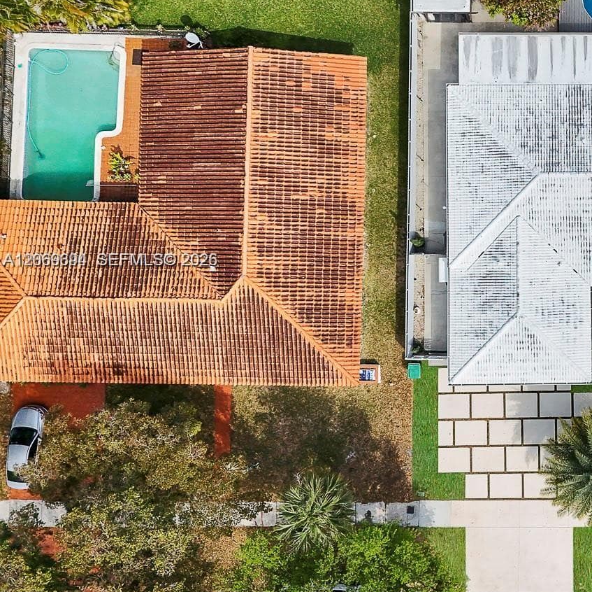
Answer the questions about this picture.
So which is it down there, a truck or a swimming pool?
swimming pool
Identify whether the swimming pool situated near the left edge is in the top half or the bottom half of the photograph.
top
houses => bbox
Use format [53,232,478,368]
[445,33,592,388]
[0,45,364,387]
